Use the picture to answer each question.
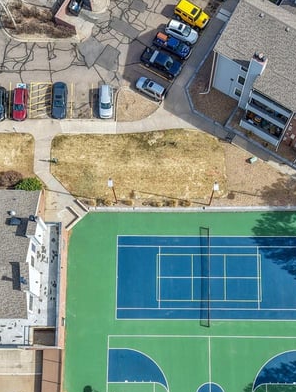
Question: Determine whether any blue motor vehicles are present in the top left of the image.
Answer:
Yes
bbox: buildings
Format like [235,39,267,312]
[0,189,62,352]
[205,0,296,144]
